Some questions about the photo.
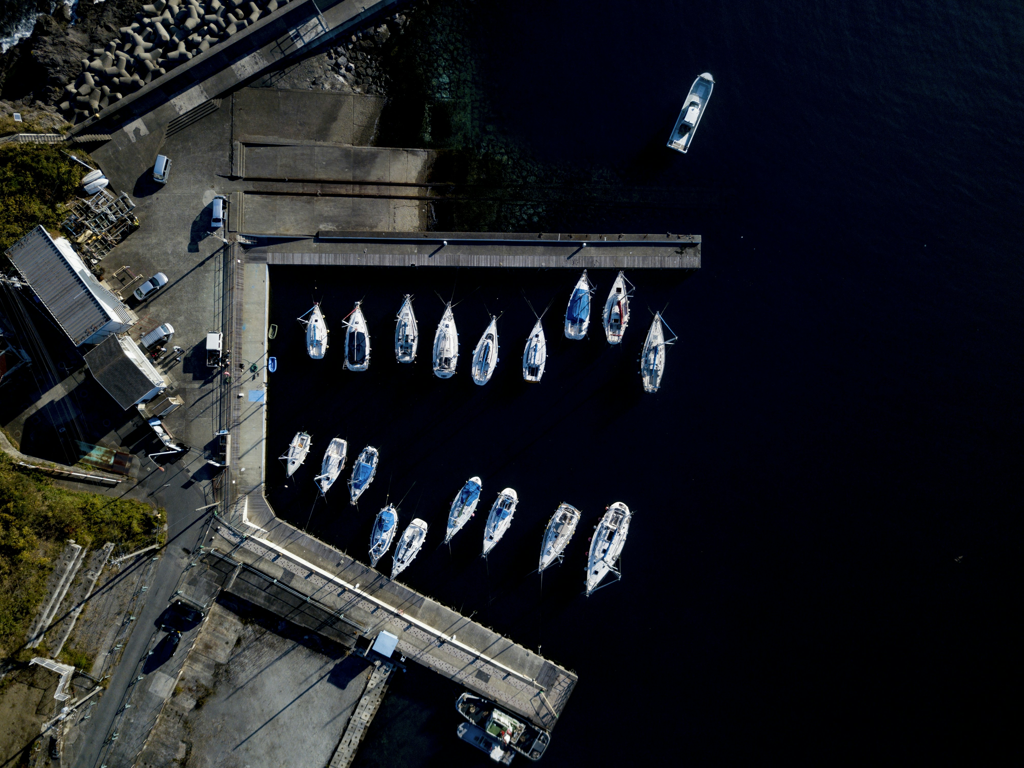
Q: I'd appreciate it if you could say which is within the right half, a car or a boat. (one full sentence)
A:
What appears within the right half is a boat.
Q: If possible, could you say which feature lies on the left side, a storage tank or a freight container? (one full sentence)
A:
There is a freight container on the left side.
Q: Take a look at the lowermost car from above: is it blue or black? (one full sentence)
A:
The lowermost car is black.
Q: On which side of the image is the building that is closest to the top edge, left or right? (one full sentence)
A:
The building that is closest to the top edge appears in the left half of the scene.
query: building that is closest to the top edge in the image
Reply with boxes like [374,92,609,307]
[0,224,152,349]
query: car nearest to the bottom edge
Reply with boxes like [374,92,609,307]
[156,630,183,666]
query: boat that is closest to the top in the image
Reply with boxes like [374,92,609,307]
[667,72,716,155]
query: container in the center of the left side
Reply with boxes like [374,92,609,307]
[74,440,135,475]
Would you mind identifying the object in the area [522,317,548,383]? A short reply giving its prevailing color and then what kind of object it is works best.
white boat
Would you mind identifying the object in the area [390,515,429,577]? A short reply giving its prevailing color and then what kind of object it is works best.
white boat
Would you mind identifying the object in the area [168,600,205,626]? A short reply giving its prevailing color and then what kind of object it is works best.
black car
